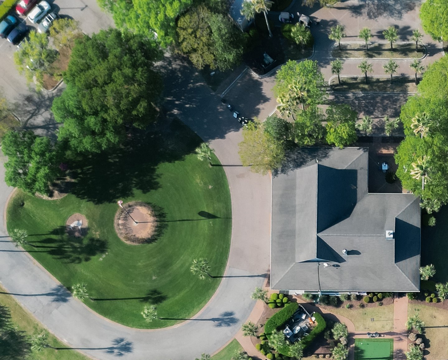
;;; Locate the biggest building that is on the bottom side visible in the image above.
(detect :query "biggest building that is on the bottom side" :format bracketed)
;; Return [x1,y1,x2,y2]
[271,147,421,300]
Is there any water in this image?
No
